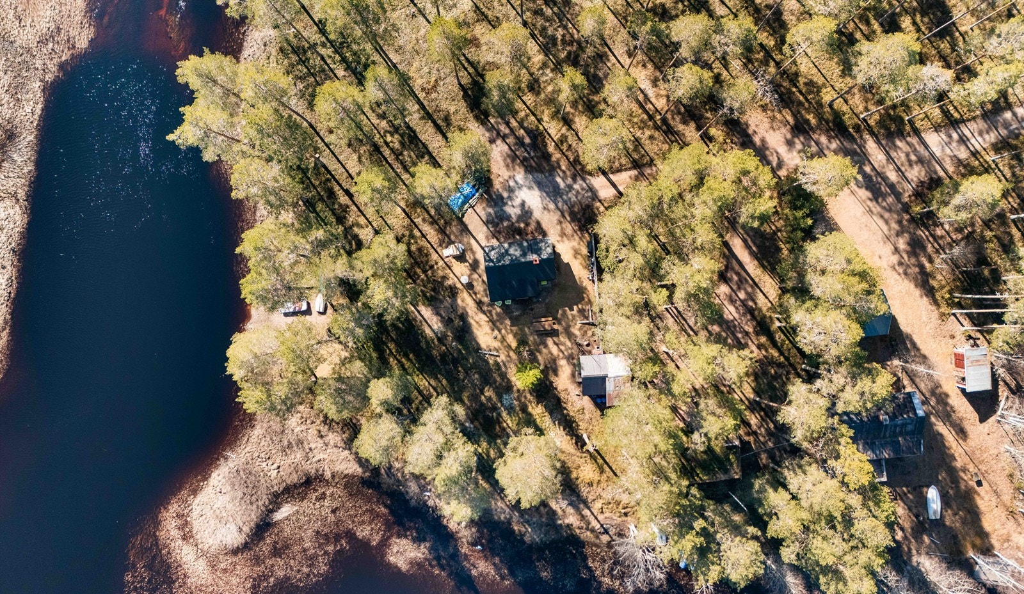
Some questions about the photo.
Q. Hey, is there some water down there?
Yes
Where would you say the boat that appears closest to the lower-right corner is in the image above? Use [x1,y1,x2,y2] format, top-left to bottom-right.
[925,484,939,520]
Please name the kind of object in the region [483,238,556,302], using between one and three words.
building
